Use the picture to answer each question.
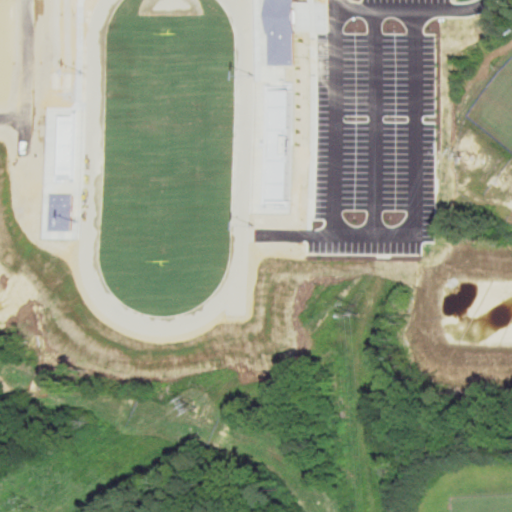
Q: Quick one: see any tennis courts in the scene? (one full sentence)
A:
No, there isn't any tennis court down there.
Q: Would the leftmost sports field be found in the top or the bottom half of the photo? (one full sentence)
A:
Seen from above, the leftmost sports field lies in the top half of the view.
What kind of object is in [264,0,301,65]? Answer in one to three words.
building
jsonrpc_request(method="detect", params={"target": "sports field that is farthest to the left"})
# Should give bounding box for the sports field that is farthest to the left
[102,0,236,316]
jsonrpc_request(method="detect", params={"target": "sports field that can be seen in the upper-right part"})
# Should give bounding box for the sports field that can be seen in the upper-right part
[468,60,512,156]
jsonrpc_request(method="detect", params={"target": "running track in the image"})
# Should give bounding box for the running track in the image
[80,0,258,338]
